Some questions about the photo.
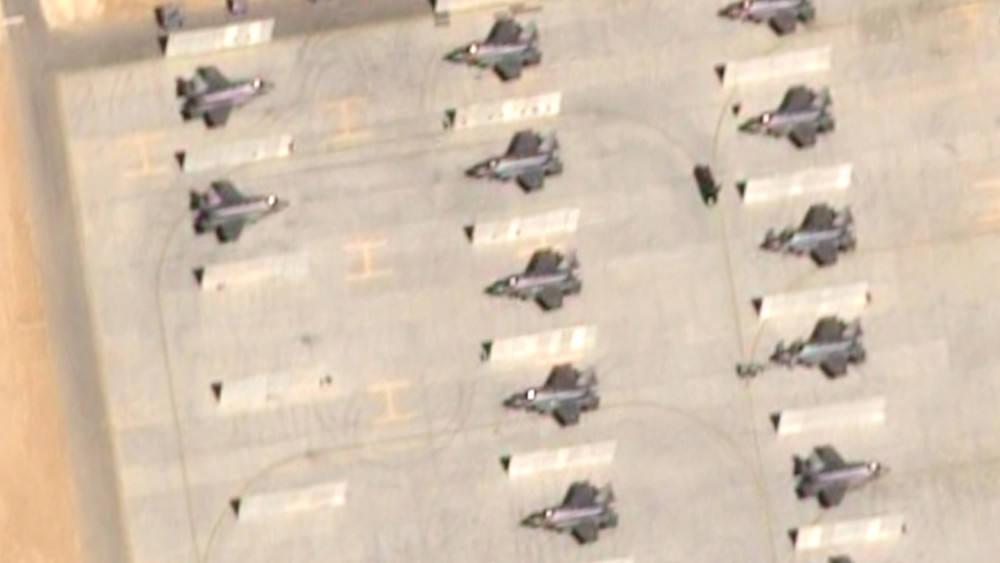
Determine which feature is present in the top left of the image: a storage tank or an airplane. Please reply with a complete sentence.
The feature located in the top left of the image is an airplane.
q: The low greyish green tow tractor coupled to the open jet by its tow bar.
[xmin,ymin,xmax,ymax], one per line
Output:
[736,363,775,380]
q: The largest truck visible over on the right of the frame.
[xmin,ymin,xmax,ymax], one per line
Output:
[694,164,723,211]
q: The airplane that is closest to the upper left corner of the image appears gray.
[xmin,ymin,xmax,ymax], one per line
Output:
[184,62,274,122]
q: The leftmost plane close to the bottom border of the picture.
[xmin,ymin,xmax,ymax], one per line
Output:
[528,479,620,540]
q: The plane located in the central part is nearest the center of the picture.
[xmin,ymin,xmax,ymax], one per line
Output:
[492,248,583,307]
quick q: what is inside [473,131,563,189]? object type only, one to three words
airplane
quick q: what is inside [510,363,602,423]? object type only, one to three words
airplane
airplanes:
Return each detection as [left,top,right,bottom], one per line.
[197,179,288,239]
[184,62,274,122]
[528,479,620,540]
[746,86,834,144]
[768,203,856,261]
[492,248,583,307]
[777,317,867,377]
[452,17,542,75]
[473,131,563,189]
[727,0,814,30]
[803,445,890,504]
[510,363,602,423]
